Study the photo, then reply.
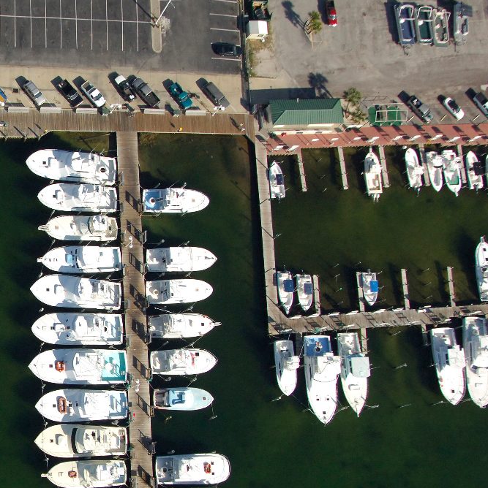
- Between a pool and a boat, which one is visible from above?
boat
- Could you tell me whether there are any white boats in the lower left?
Yes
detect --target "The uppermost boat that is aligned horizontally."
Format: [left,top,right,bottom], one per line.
[26,143,117,186]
